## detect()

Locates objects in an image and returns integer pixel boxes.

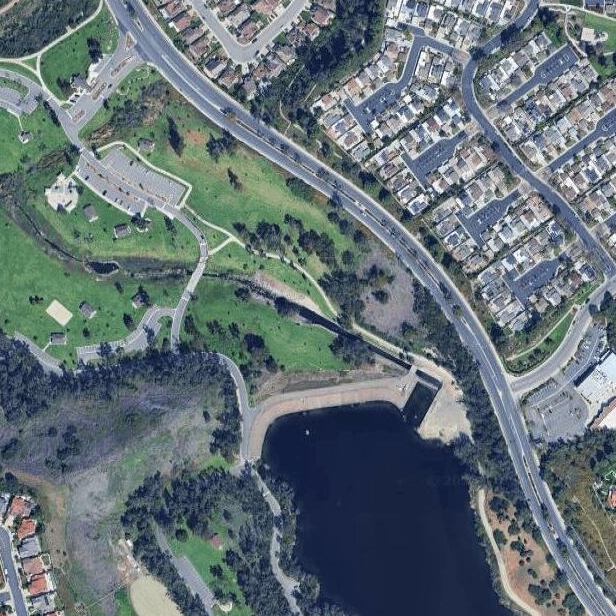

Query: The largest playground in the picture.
[45,174,78,214]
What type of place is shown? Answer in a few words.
residential area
